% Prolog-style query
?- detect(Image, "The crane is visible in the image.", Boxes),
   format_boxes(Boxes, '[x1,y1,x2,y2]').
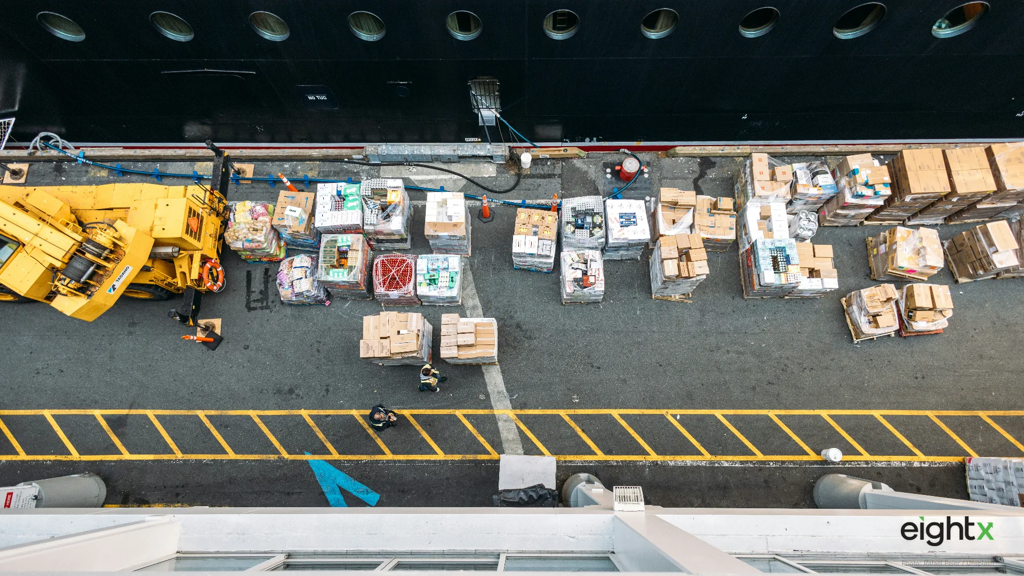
[0,139,248,336]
